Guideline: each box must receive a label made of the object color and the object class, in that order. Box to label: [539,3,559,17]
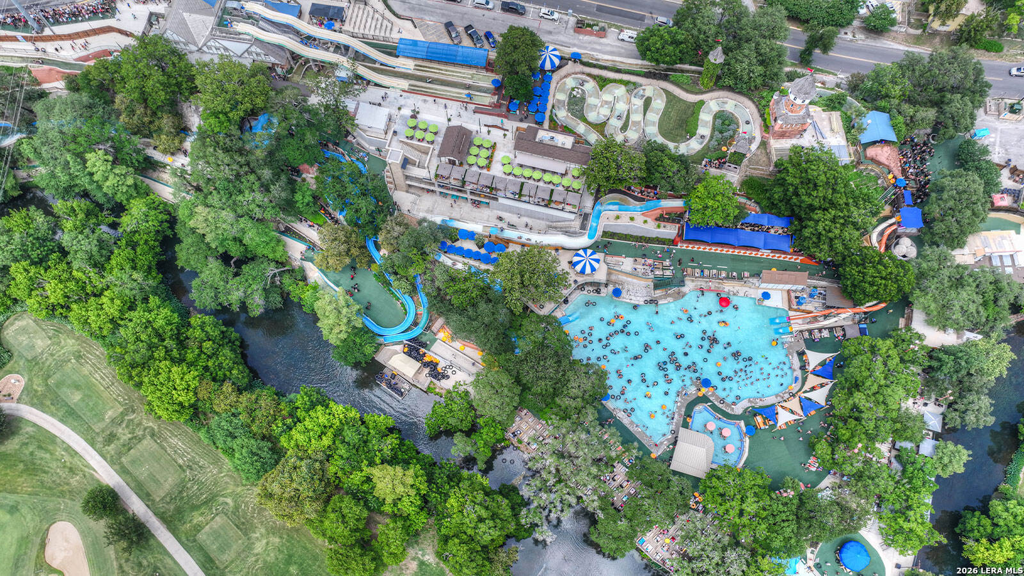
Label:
white car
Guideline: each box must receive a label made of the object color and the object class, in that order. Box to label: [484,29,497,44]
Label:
blue vehicle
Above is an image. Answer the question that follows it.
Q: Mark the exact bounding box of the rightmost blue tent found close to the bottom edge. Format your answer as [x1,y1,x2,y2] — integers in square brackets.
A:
[836,538,872,574]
